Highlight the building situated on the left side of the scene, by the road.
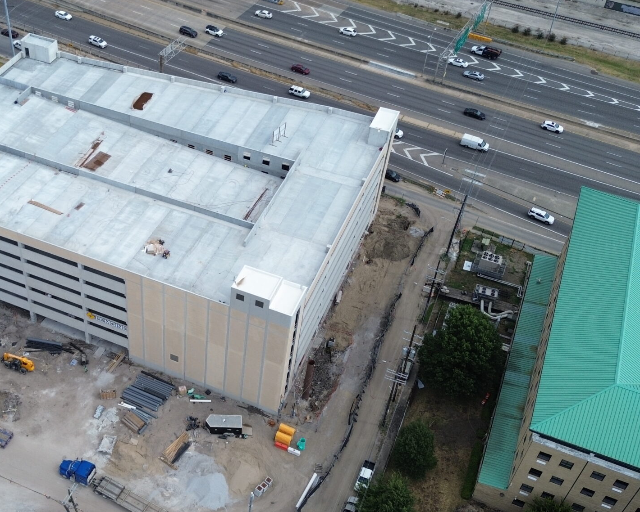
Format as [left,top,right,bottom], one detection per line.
[0,33,400,416]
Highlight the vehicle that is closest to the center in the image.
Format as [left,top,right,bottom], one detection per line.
[385,170,403,183]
